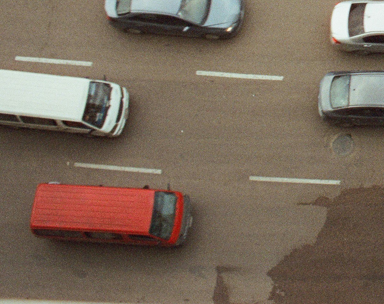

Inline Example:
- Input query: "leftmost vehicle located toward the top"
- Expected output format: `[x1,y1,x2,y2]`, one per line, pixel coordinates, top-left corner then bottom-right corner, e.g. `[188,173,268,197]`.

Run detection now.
[0,71,129,138]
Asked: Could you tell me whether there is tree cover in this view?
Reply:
No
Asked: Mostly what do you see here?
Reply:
paved ground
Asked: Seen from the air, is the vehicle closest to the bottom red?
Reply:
Yes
